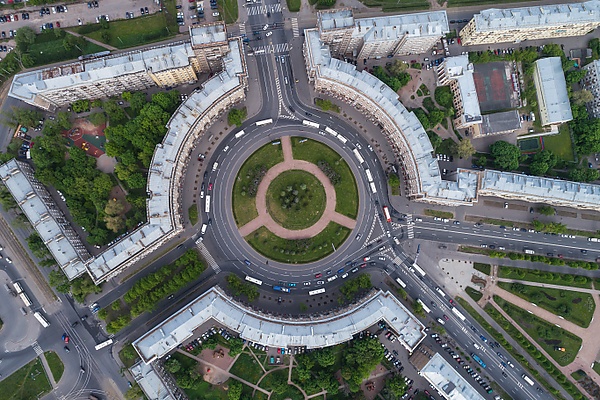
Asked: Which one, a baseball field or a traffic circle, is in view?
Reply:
traffic circle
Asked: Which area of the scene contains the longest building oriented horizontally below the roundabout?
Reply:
bottom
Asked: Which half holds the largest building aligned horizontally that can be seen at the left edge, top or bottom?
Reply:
top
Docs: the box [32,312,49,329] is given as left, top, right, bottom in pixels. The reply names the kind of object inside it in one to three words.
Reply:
vehicle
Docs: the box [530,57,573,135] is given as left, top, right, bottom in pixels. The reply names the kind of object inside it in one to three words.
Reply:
building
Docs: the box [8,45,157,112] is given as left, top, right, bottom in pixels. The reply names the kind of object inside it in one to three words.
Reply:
building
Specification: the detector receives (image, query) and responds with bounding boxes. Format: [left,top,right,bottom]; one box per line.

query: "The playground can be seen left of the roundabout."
[63,118,106,158]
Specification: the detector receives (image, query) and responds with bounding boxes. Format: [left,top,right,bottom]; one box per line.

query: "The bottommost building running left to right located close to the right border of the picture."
[478,169,600,211]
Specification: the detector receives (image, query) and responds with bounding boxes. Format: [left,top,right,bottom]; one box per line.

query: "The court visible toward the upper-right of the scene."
[473,61,519,110]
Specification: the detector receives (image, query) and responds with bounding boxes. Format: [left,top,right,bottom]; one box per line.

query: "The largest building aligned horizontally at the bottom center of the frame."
[129,288,428,364]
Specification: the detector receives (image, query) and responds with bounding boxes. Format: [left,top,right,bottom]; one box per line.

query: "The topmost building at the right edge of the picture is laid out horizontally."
[461,0,600,45]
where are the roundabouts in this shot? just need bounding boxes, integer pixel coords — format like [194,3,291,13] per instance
[224,131,365,271]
